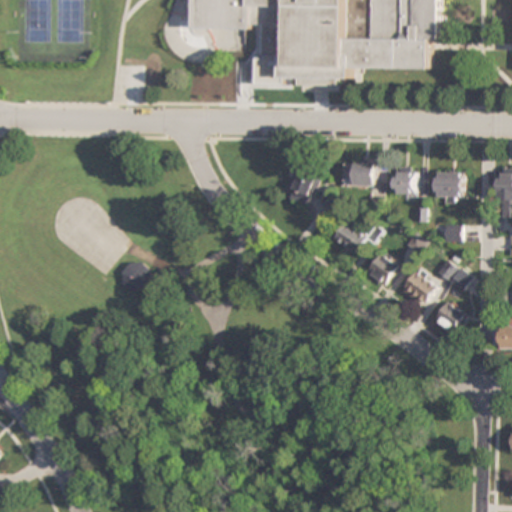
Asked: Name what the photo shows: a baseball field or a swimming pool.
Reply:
baseball field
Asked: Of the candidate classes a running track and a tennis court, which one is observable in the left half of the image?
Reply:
tennis court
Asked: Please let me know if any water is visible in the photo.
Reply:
No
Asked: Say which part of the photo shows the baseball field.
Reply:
left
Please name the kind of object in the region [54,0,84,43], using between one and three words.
tennis court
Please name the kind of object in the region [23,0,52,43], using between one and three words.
tennis court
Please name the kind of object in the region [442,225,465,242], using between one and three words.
building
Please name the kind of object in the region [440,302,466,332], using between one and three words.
house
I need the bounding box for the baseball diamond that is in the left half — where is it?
[56,198,128,274]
